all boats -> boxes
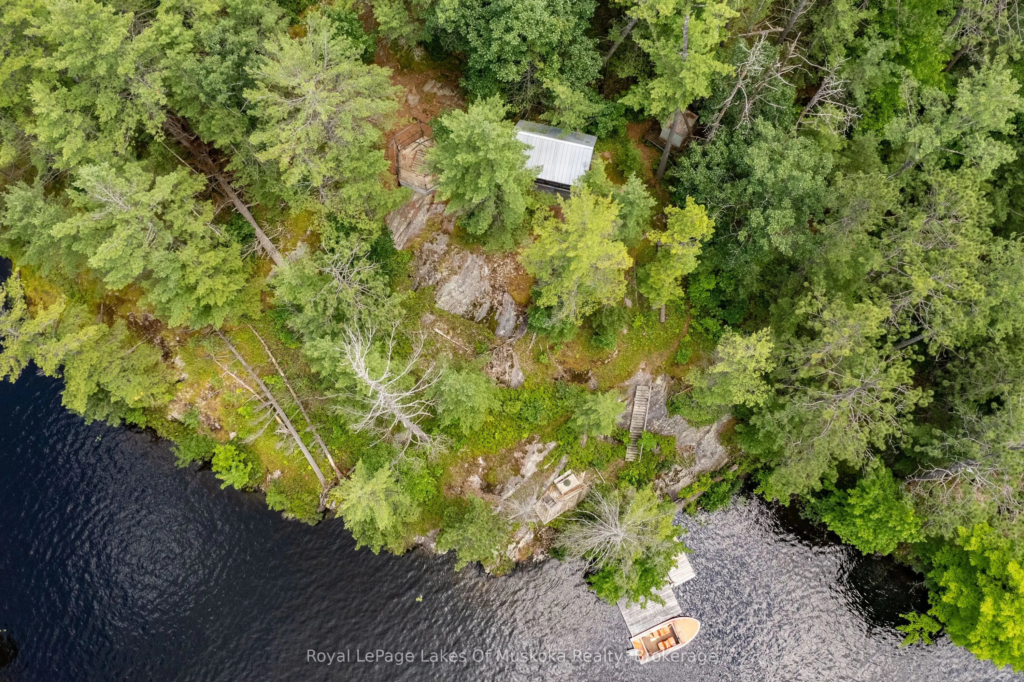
[628,614,702,666]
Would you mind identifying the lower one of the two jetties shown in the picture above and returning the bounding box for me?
[621,583,682,636]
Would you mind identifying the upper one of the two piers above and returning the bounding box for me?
[665,545,696,587]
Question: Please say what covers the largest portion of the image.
trees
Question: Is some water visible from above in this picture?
Yes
